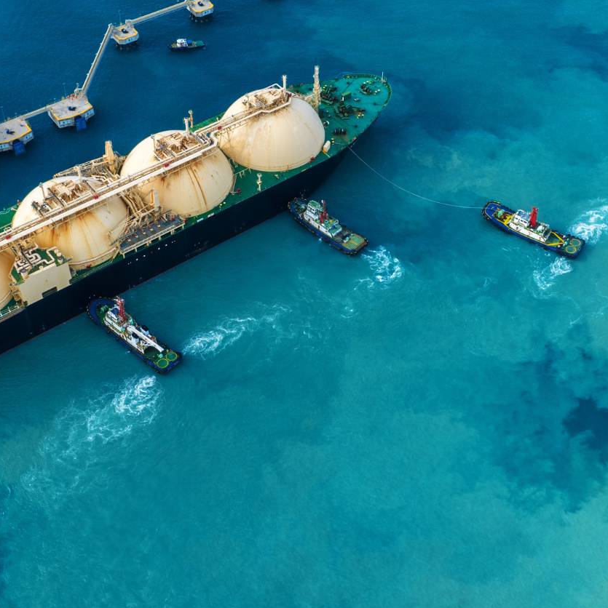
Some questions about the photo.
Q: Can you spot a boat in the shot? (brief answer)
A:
Yes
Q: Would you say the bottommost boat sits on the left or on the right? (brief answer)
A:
left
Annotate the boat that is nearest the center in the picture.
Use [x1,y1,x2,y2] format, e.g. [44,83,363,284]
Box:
[288,196,373,259]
